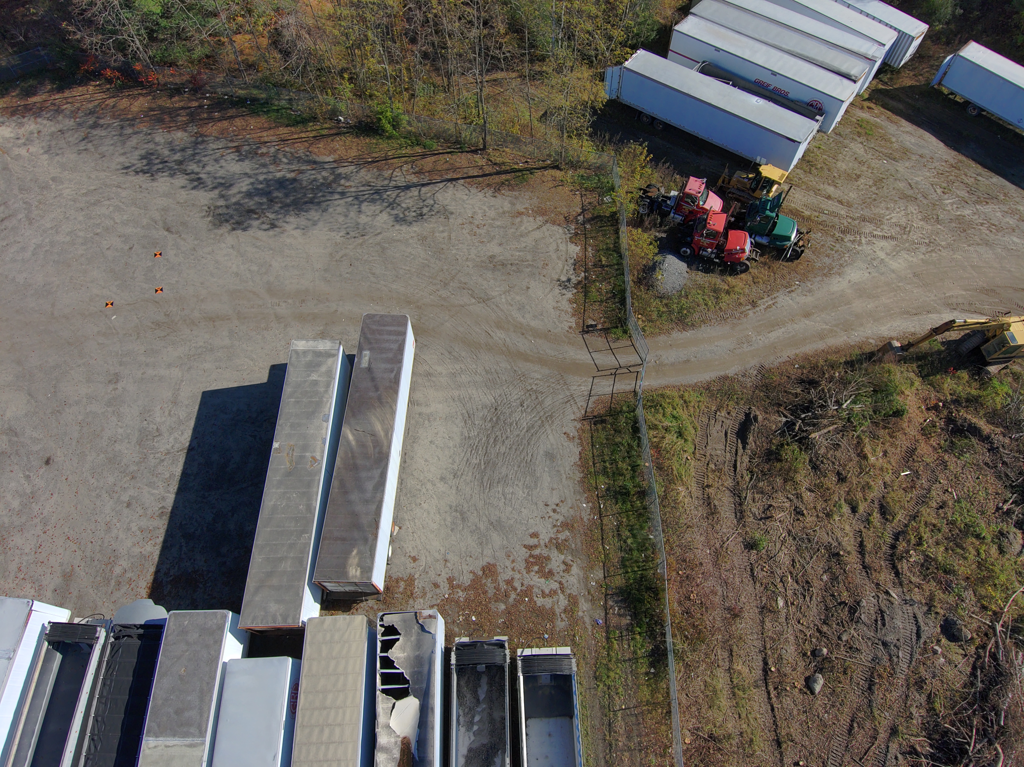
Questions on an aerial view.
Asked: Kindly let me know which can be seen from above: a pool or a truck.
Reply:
truck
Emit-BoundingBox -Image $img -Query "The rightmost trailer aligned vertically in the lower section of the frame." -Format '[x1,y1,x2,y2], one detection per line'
[517,642,582,767]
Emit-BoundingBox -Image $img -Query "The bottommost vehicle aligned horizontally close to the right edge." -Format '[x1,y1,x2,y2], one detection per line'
[881,317,1024,382]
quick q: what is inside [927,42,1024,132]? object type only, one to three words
trailer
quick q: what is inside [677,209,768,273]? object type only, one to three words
truck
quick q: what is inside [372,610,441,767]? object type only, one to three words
trailer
